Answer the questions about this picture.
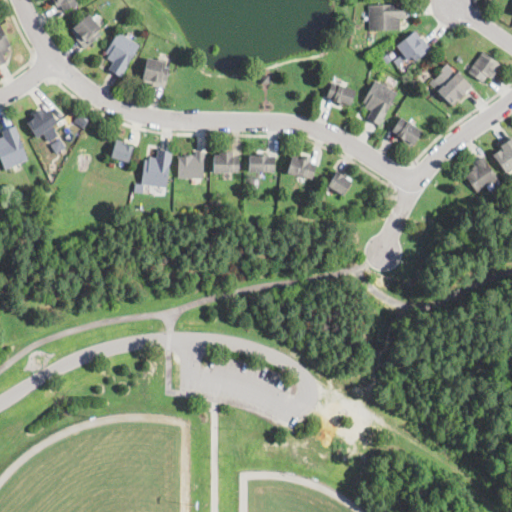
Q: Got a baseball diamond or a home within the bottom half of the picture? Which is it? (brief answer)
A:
baseball diamond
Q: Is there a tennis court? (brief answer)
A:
No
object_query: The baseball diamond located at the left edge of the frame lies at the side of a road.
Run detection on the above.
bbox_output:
[0,414,190,512]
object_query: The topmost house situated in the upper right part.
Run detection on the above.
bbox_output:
[370,5,403,31]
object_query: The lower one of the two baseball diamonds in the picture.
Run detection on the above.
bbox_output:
[240,471,358,512]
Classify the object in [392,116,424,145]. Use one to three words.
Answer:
house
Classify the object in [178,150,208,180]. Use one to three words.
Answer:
house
